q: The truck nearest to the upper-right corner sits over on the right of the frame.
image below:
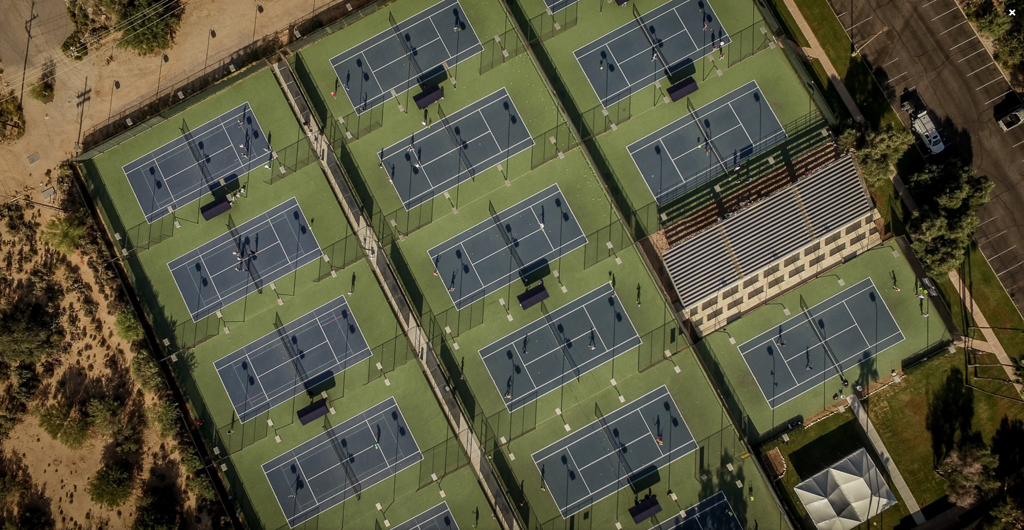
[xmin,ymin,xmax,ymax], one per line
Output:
[999,107,1024,130]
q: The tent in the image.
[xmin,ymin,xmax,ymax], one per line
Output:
[787,445,898,530]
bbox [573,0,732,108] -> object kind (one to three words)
tennis court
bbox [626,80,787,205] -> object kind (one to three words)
tennis court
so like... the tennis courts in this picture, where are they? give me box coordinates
[650,491,743,530]
[428,184,588,310]
[378,88,535,211]
[573,0,732,108]
[532,385,699,519]
[167,197,323,322]
[626,80,787,205]
[123,102,276,224]
[545,0,578,14]
[479,282,642,413]
[391,501,459,530]
[330,0,484,115]
[214,295,372,424]
[738,277,906,409]
[262,397,424,528]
